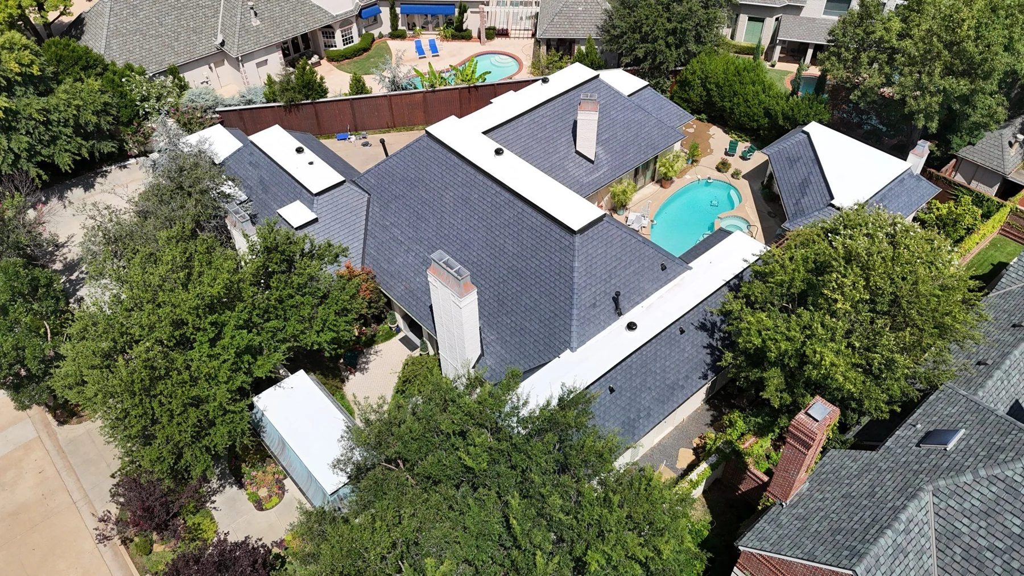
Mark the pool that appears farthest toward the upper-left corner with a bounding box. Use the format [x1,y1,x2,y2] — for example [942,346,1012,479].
[394,50,525,96]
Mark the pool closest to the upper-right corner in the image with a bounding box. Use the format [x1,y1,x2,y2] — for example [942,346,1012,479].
[786,72,852,116]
